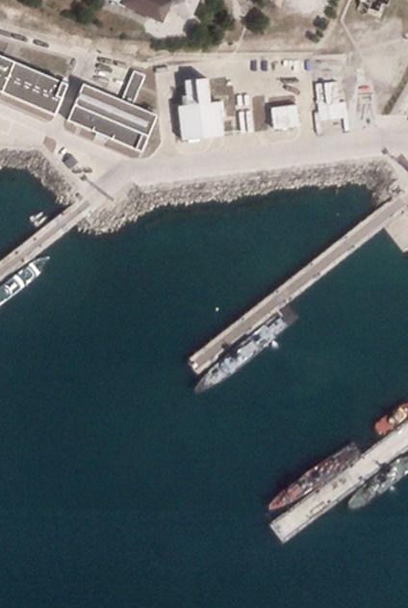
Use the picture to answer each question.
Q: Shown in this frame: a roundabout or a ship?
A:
ship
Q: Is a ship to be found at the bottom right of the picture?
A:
Yes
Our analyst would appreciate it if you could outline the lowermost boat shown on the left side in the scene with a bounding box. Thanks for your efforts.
[0,259,46,307]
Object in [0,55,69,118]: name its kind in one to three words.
building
